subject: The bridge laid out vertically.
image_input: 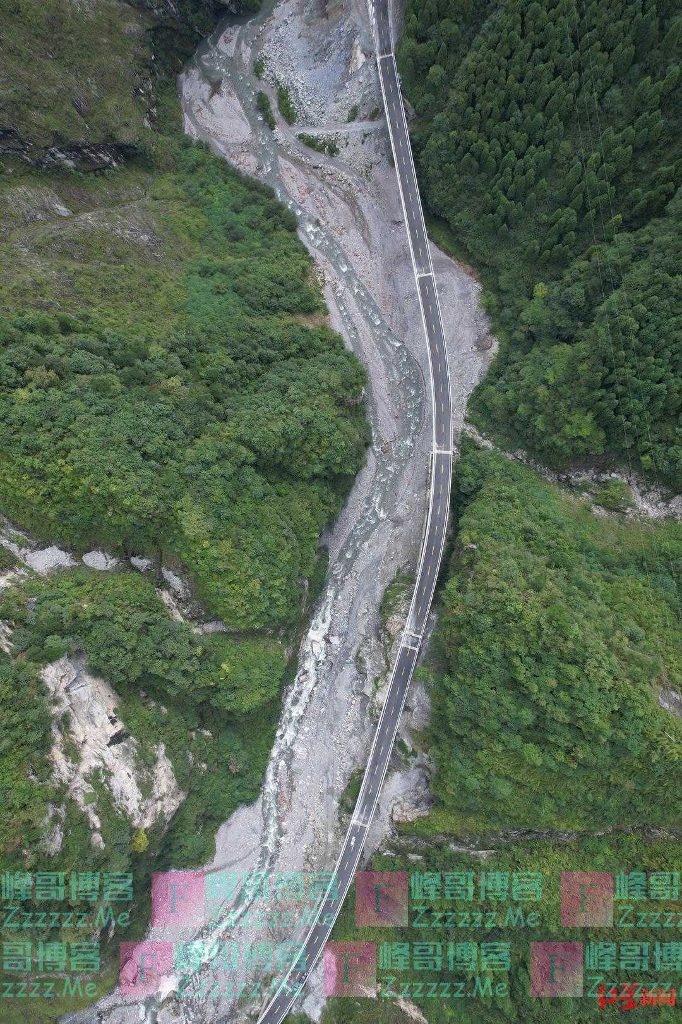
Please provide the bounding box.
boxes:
[258,52,453,1024]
